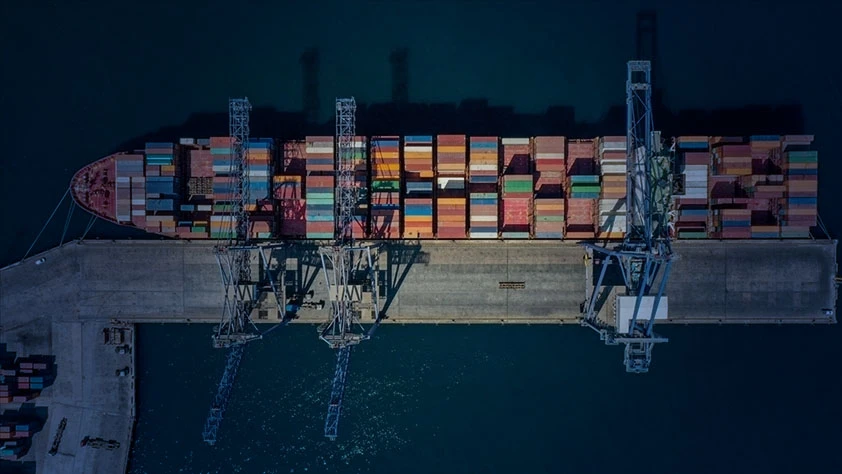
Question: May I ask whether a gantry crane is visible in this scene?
Yes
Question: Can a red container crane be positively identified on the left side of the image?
No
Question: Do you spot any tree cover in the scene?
No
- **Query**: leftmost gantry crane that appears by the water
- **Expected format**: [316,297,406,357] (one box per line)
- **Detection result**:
[206,97,294,447]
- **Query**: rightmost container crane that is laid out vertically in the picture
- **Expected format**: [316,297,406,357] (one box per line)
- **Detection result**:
[577,61,680,374]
